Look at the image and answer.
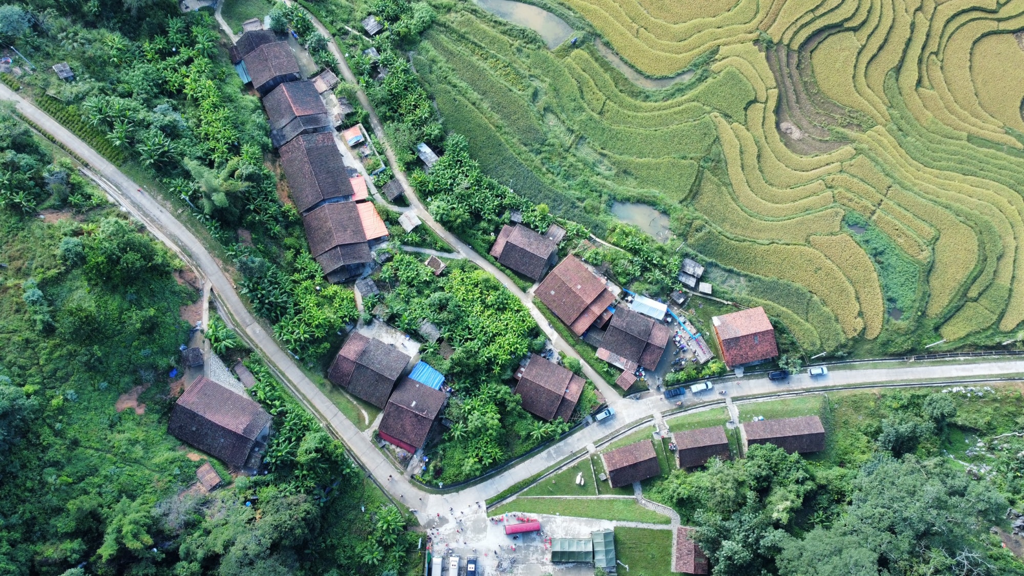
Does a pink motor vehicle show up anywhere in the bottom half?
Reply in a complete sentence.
Yes, in the bottom half there is a pink motor vehicle.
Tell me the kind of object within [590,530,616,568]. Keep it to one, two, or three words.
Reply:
tent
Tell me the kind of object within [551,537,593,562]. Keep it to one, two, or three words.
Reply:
tent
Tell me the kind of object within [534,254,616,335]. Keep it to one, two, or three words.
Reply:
house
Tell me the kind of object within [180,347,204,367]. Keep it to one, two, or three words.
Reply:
shed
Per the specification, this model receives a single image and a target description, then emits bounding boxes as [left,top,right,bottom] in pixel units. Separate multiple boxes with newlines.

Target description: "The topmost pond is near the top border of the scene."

[478,0,573,49]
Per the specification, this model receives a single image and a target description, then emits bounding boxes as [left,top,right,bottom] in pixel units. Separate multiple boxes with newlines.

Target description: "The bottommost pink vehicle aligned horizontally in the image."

[501,519,543,538]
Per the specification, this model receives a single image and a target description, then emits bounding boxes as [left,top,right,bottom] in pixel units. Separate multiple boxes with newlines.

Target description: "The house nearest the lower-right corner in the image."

[743,414,826,454]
